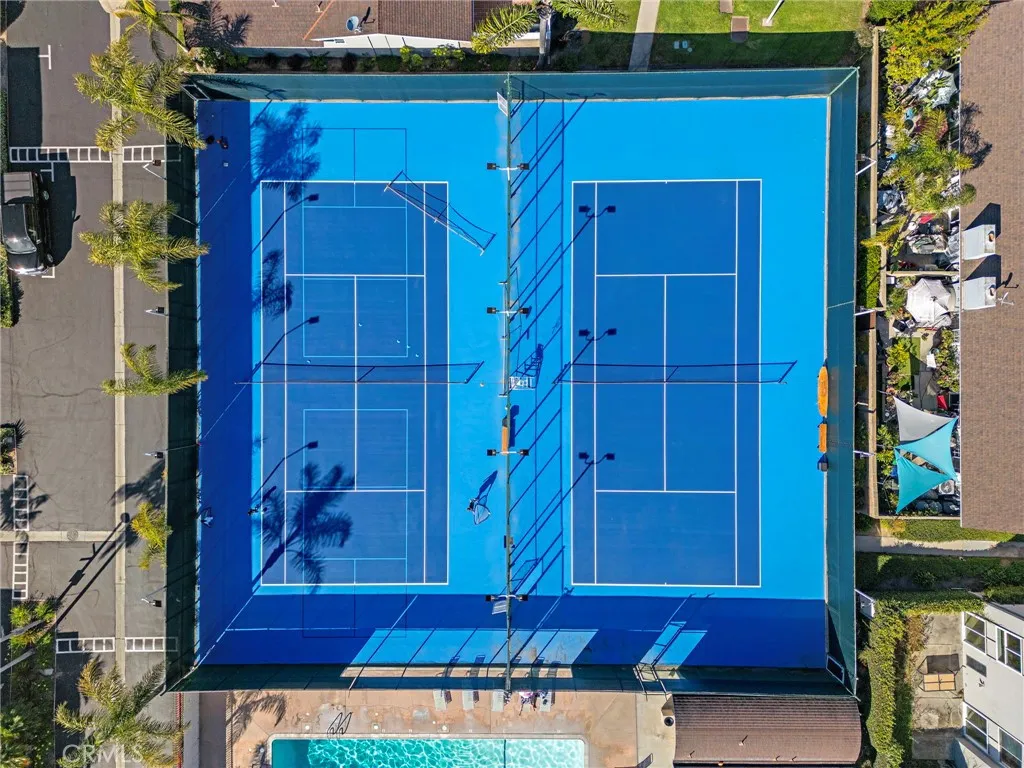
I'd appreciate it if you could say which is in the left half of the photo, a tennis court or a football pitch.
tennis court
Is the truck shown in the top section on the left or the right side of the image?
left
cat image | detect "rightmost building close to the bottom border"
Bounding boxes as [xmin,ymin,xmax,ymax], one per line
[950,598,1024,768]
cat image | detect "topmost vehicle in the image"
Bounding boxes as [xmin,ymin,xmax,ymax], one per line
[0,172,53,278]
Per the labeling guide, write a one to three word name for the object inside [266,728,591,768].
swimming pool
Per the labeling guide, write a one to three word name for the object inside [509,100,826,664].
tennis court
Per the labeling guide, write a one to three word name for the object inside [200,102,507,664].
tennis court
